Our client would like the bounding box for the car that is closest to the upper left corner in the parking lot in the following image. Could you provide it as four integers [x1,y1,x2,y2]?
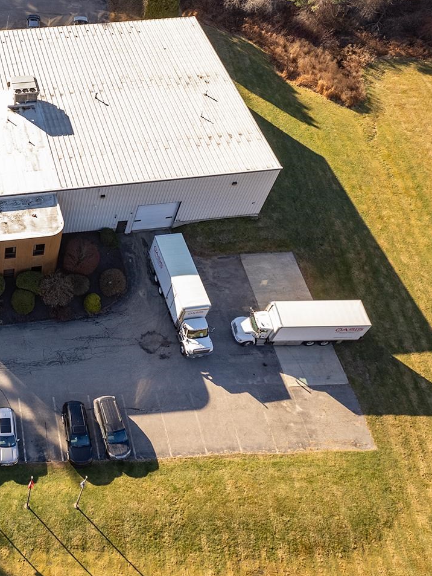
[24,15,42,29]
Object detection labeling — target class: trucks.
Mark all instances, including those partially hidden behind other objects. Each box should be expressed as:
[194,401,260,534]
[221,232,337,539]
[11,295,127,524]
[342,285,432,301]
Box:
[230,300,371,345]
[150,233,220,357]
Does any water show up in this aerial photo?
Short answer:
No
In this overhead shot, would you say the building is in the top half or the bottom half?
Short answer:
top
